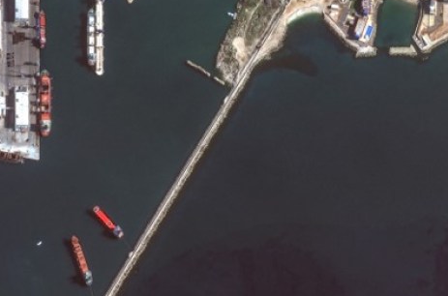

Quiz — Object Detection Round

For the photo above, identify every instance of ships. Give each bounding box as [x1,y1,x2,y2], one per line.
[70,236,93,288]
[84,7,95,67]
[37,69,51,137]
[96,204,122,240]
[37,9,47,49]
